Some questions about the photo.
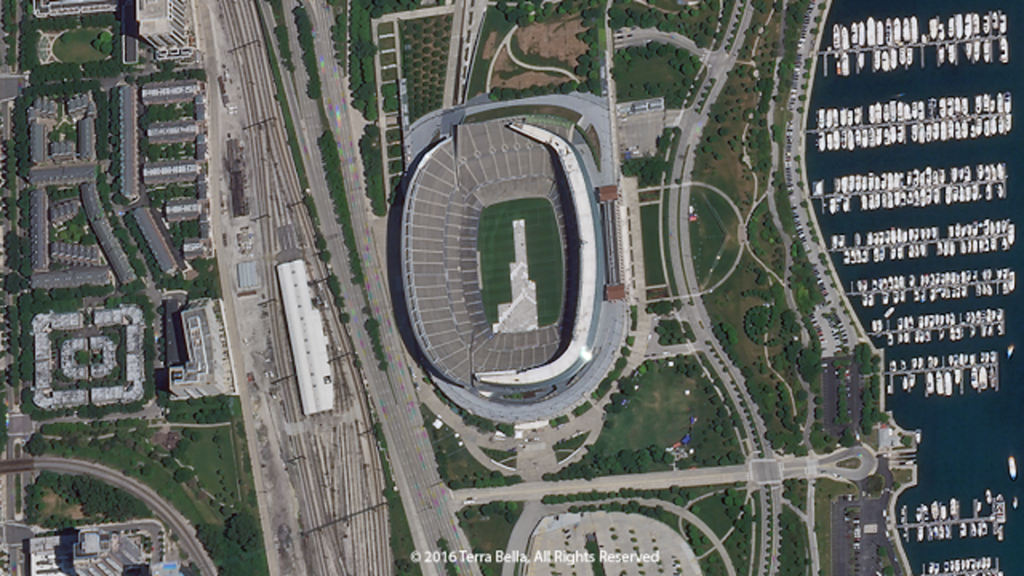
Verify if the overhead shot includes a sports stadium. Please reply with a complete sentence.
Yes, a sports stadium can be made out from above.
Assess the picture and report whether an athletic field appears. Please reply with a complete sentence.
Yes, you can see an athletic field in this photo.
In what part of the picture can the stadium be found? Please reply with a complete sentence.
The stadium sits in the center section of the image.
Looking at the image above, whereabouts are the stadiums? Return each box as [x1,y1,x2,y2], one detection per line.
[400,94,630,421]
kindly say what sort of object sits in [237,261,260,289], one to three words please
shed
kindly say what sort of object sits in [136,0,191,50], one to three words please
building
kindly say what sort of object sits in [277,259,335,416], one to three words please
shed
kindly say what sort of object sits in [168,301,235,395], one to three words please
building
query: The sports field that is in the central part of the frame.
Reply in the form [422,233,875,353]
[477,197,565,333]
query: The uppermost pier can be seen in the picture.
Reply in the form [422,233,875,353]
[818,20,1007,77]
